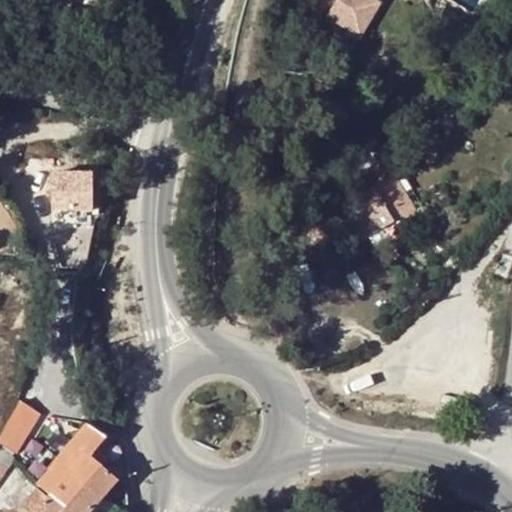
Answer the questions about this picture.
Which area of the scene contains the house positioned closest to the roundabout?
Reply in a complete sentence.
Look in the bottom left portion of the view to spot the house positioned closest to the roundabout.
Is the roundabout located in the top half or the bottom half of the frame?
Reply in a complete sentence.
The roundabout sits in the bottom half of the picture.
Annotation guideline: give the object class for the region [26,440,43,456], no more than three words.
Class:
umbrella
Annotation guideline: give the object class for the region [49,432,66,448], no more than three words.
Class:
umbrella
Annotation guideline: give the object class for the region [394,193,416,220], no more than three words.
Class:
house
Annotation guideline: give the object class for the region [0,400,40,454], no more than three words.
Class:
shed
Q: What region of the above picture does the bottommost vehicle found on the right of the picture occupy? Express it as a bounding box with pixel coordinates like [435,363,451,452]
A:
[344,374,376,392]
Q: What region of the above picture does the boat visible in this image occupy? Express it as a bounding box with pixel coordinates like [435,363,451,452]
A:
[348,271,362,295]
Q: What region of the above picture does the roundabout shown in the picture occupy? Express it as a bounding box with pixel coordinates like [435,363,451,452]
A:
[134,336,304,506]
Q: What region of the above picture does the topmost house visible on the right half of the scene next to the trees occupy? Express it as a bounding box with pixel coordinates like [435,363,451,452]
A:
[325,0,382,34]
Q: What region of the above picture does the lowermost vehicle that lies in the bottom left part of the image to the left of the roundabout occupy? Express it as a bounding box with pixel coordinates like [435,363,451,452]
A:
[26,384,46,399]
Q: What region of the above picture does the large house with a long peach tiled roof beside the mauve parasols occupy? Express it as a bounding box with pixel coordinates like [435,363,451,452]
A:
[36,422,118,512]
